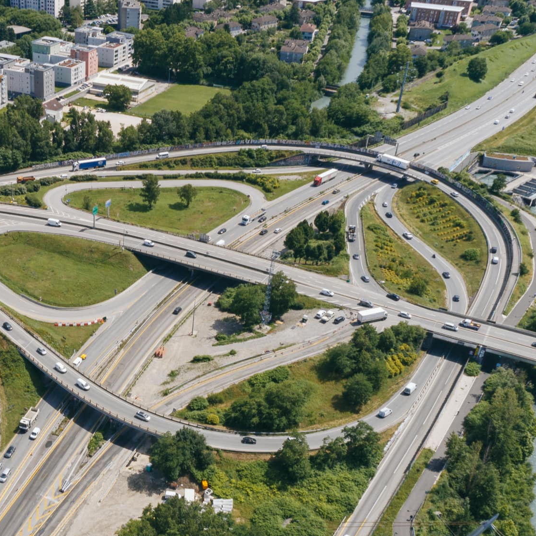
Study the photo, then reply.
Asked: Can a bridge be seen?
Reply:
Yes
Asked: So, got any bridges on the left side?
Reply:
Yes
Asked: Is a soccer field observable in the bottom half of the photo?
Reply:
No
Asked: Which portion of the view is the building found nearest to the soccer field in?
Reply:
top left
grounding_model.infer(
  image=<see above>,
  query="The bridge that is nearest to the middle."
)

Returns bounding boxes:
[172,229,281,285]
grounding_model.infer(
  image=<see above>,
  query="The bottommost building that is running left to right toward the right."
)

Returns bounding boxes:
[481,154,534,173]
